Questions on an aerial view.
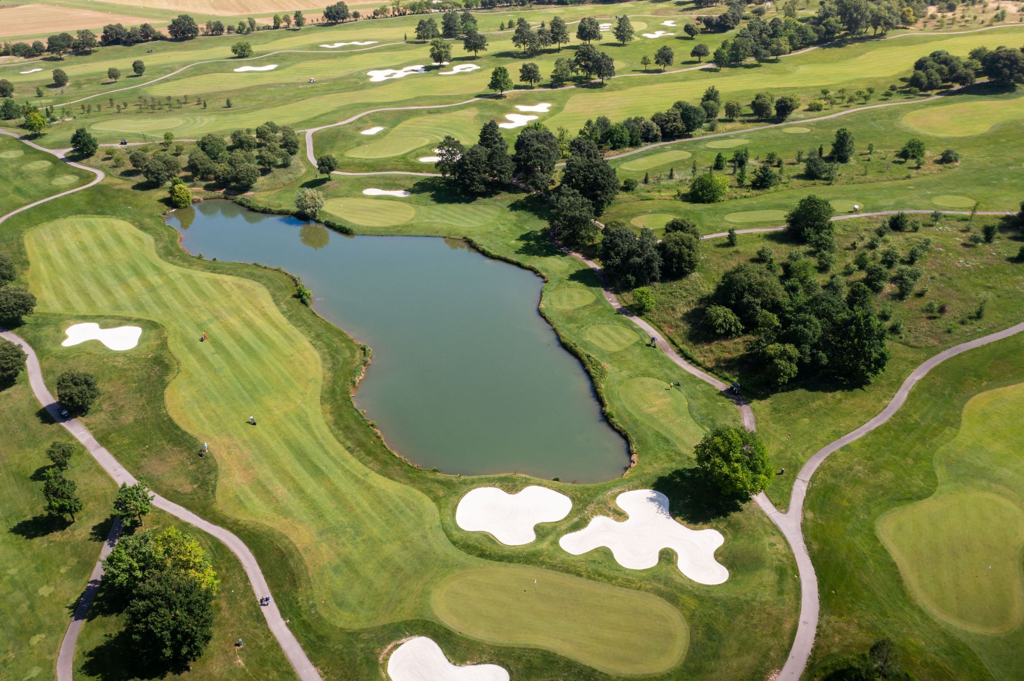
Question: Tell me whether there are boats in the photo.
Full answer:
No, the frame has no boat in it.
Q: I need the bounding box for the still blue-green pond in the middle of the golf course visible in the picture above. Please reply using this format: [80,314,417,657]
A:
[165,199,631,485]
